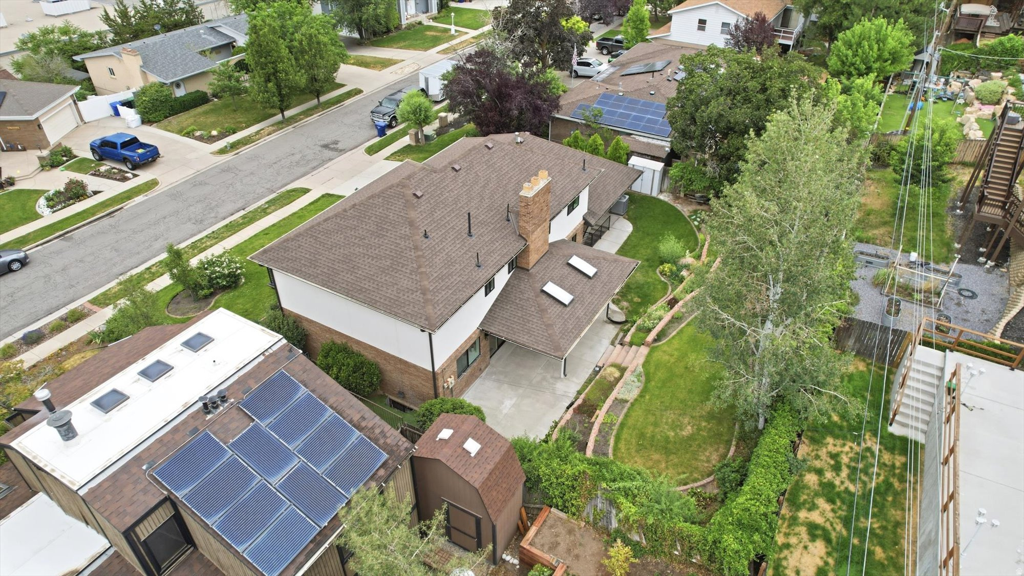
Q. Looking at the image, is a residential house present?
Yes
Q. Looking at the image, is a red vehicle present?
No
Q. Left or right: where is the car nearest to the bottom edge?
left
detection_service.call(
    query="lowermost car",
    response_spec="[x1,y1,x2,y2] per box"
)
[0,246,32,278]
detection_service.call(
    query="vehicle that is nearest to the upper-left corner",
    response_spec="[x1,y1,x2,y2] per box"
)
[86,124,164,167]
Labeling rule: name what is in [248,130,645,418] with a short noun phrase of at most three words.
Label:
house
